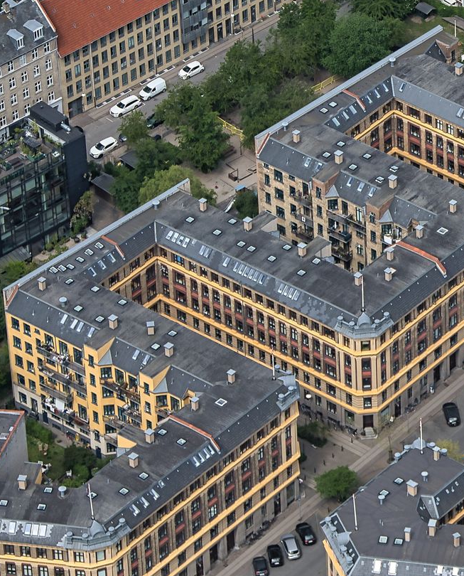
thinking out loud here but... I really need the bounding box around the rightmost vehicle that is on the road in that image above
[442,403,461,428]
